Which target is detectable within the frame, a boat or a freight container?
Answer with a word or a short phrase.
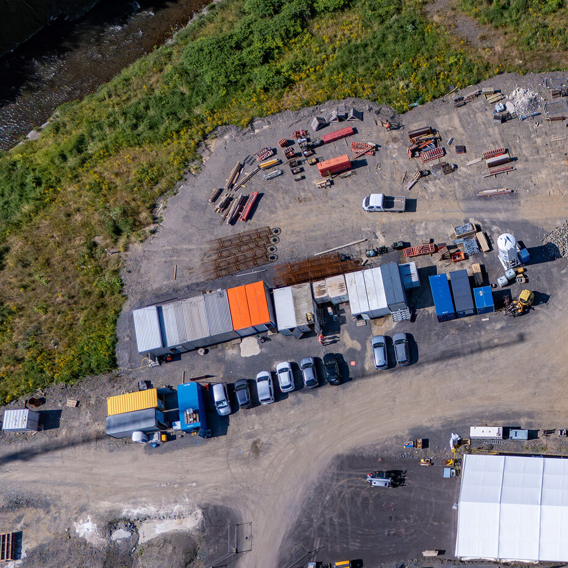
freight container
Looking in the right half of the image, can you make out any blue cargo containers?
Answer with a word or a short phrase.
Yes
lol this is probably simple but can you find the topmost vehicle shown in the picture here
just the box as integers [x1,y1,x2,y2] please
[363,194,407,212]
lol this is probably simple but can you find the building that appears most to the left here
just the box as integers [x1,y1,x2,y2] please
[133,305,172,359]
